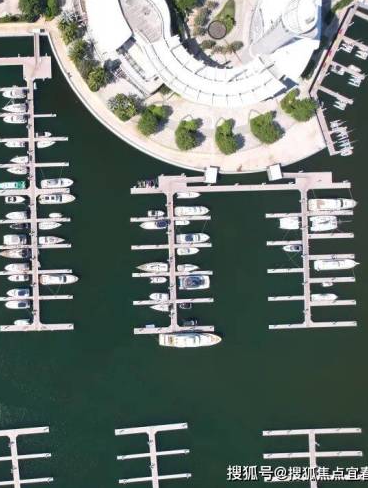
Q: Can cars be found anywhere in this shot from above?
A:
No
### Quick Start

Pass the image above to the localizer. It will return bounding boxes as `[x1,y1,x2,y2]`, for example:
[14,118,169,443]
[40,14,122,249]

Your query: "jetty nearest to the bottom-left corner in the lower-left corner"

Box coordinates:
[0,427,54,488]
